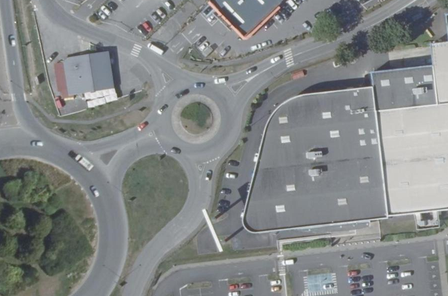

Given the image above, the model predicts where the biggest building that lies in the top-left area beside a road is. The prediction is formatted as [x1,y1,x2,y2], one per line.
[54,50,114,99]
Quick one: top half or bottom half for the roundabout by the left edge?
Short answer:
bottom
